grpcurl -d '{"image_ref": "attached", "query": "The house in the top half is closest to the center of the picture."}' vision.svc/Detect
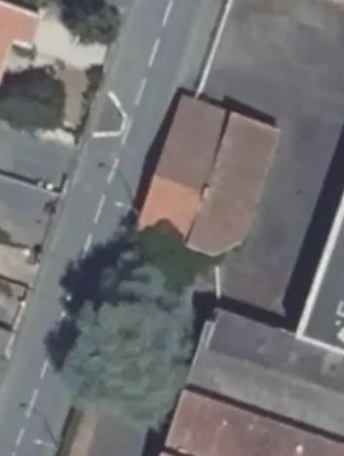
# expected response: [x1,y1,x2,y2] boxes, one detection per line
[139,96,280,256]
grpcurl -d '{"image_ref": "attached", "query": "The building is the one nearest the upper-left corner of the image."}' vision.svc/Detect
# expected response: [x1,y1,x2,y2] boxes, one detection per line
[0,2,40,84]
